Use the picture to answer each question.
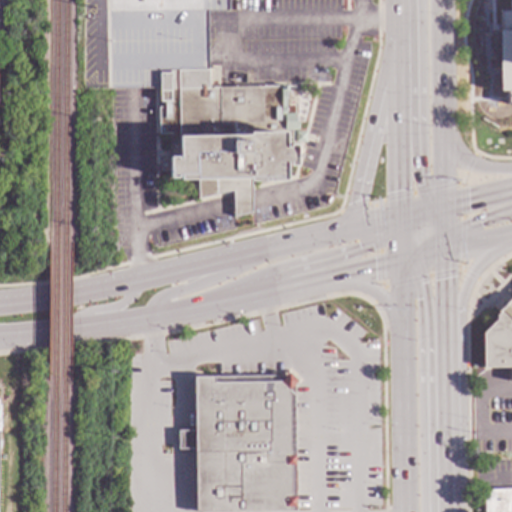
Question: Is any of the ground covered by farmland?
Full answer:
No, there is no farmland in the image.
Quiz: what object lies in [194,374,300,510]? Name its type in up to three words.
building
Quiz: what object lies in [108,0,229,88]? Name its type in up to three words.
building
